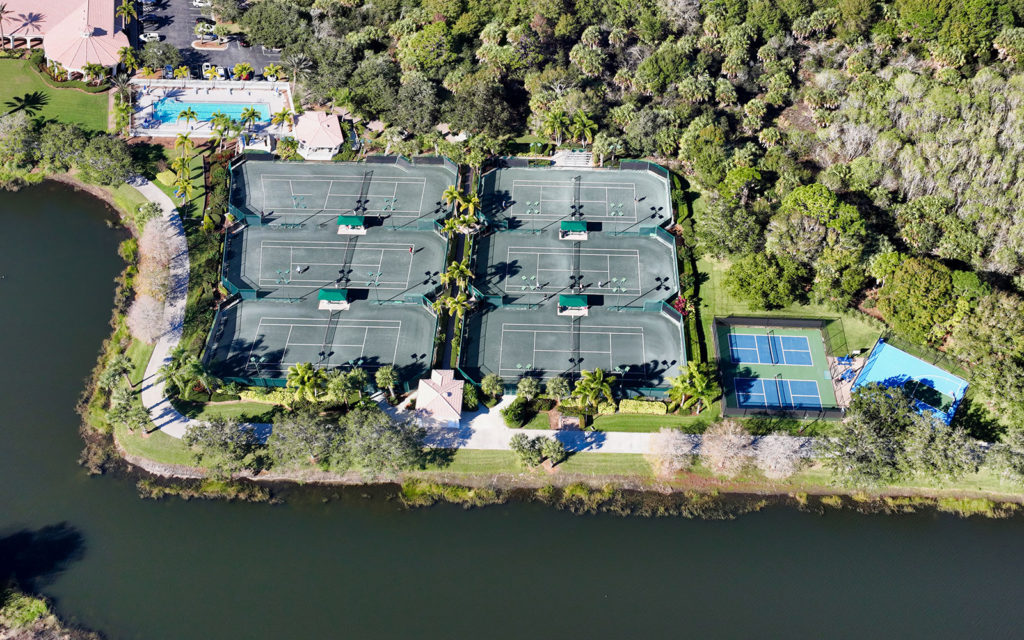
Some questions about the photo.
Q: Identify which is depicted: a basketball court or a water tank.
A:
basketball court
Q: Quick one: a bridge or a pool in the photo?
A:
pool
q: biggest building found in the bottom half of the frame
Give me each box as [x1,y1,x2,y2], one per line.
[413,368,465,428]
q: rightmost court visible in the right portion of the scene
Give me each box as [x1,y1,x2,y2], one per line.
[852,342,969,425]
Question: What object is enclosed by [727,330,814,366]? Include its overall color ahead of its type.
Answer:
blue sports court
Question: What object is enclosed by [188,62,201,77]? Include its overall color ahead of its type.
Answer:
black vehicle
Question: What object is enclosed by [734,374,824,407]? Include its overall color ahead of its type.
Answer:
blue sports court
